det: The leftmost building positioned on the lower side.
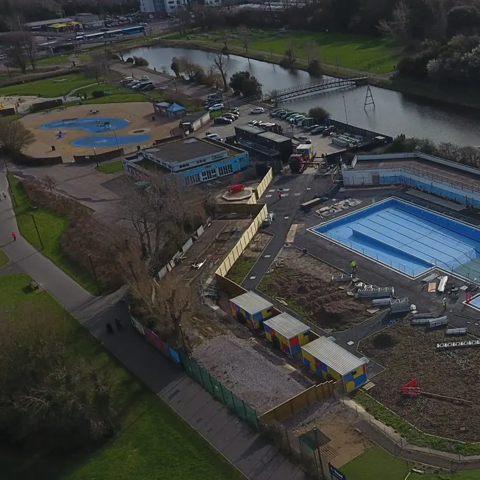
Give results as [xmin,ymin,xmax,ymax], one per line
[229,290,274,332]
